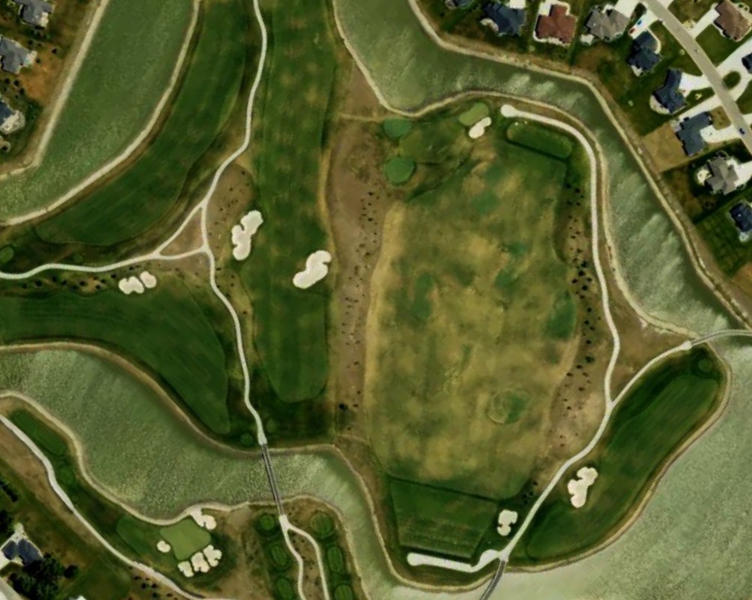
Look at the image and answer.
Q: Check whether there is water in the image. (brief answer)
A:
Yes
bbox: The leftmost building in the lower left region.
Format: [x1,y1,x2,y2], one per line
[0,534,45,567]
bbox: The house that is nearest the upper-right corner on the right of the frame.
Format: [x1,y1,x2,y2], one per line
[712,0,752,39]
